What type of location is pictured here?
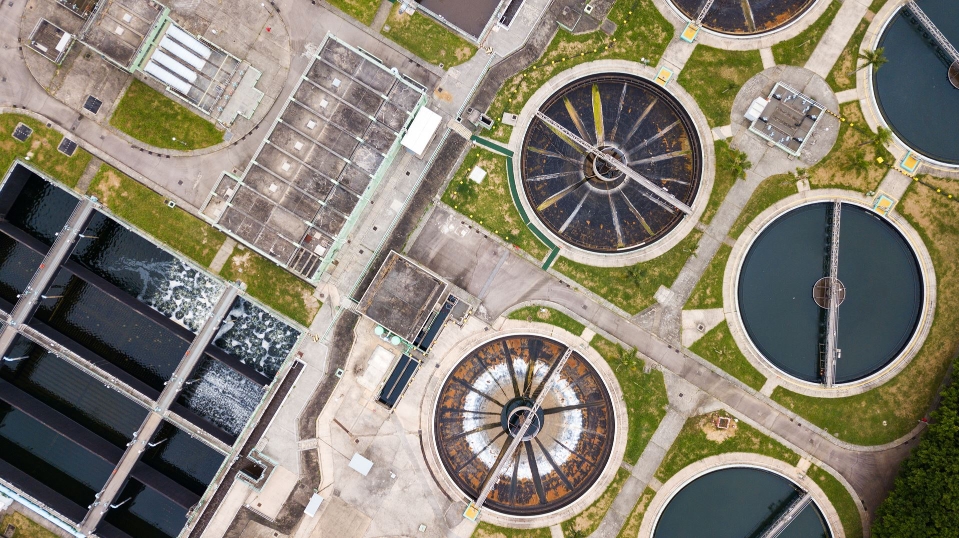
industrial area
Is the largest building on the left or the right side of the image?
left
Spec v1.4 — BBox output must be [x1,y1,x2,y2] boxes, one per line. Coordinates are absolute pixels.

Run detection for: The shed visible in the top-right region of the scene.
[741,97,770,124]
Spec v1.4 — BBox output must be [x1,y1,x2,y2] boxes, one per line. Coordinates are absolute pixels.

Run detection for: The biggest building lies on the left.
[198,31,429,284]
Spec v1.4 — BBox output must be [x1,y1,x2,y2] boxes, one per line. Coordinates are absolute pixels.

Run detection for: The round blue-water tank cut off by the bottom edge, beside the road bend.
[637,452,848,538]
